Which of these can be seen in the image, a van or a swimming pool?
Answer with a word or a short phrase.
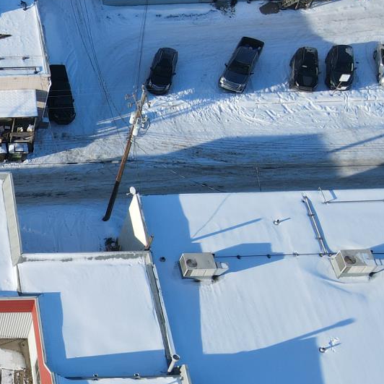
van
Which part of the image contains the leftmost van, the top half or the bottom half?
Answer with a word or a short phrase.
top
